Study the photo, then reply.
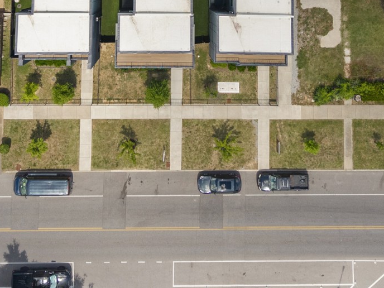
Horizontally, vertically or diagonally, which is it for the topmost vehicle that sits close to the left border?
horizontally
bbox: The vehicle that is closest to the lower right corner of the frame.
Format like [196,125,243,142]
[257,169,310,193]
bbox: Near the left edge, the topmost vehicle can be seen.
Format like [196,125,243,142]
[15,172,74,196]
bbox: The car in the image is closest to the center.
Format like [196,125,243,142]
[196,171,242,194]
